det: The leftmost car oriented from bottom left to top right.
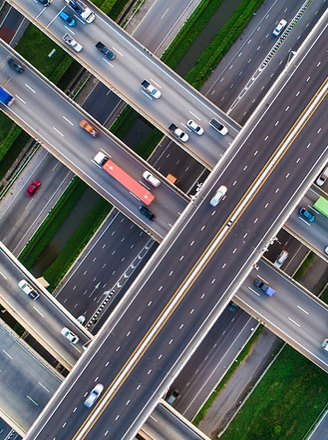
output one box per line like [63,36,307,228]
[25,180,41,199]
